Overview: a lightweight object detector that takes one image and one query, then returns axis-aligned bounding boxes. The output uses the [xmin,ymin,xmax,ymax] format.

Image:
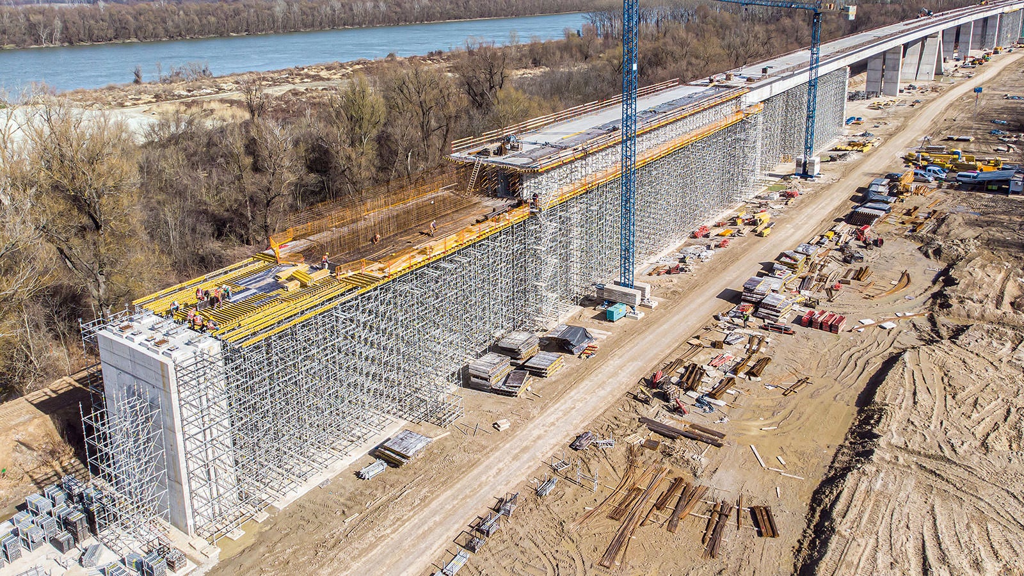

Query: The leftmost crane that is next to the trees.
[591,0,660,317]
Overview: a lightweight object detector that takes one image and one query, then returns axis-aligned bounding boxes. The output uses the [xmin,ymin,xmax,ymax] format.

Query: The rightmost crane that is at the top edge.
[710,0,859,178]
